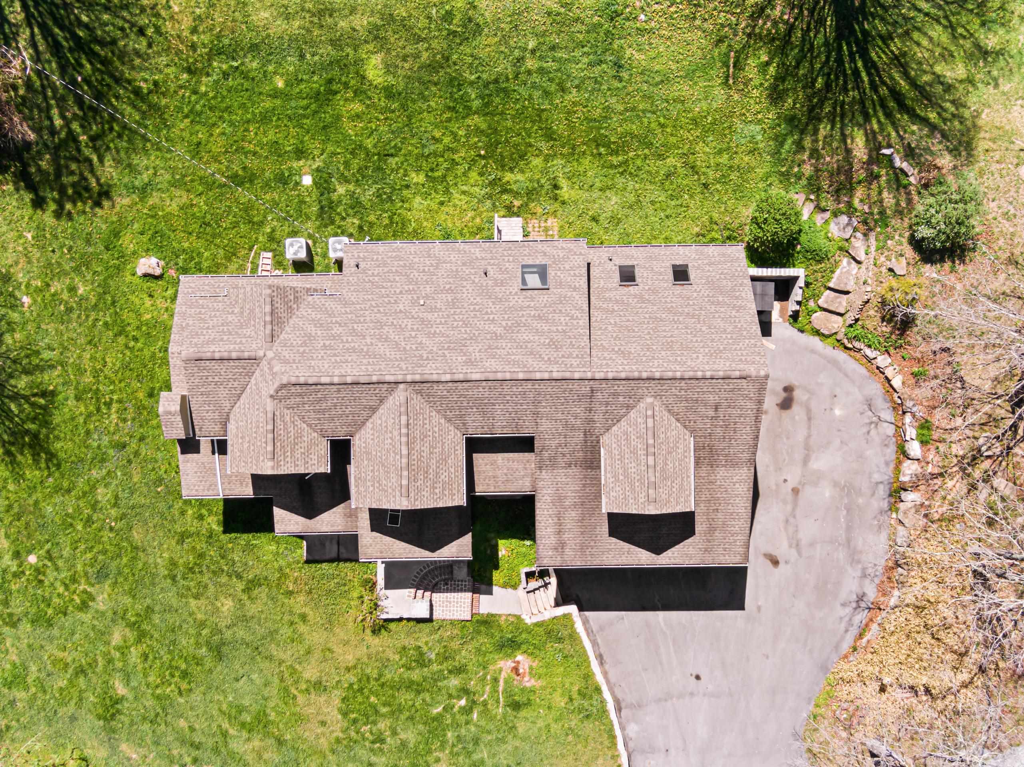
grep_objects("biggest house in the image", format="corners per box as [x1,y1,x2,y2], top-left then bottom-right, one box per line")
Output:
[159,236,769,567]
